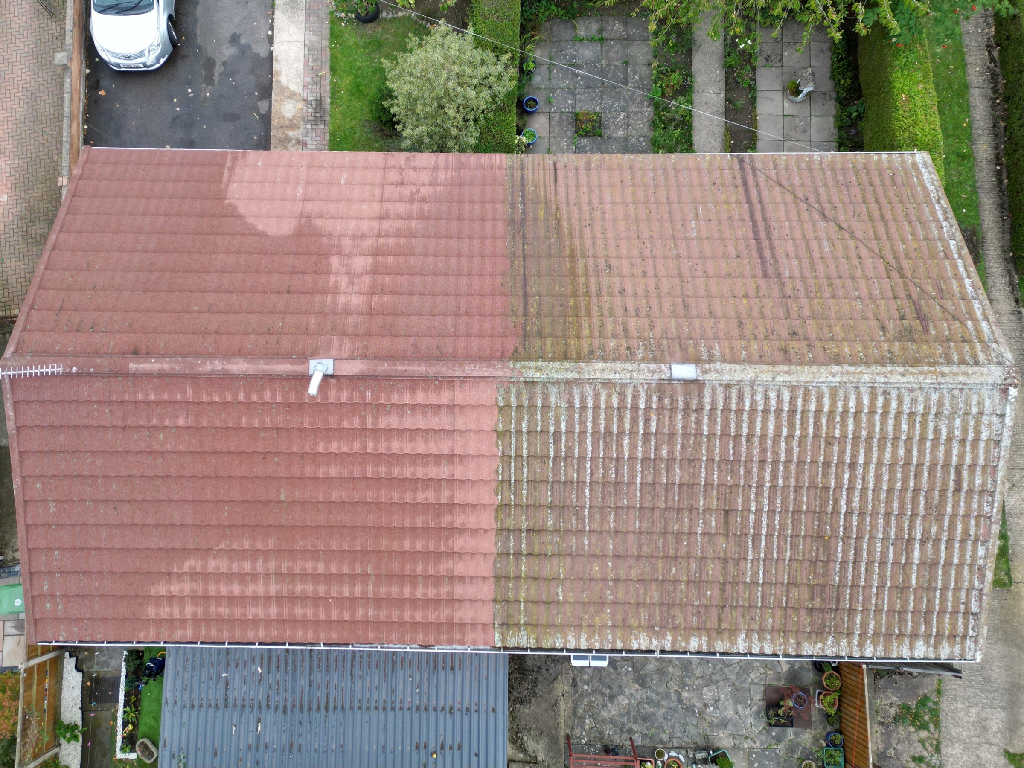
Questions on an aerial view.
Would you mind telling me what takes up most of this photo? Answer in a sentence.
The scene is dominated by buildings.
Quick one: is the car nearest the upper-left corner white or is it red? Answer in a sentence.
The color of the car nearest the upper-left corner is white.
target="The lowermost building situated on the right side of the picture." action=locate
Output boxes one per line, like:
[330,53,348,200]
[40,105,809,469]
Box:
[490,148,1021,668]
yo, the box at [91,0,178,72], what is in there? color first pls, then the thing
white car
